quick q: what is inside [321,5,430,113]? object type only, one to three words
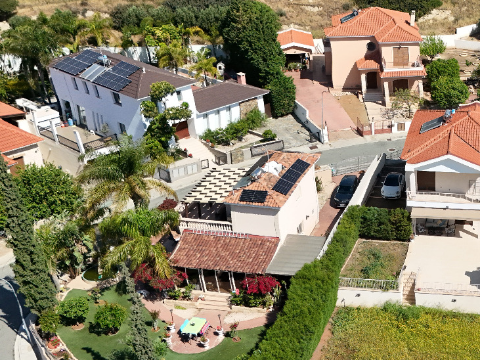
house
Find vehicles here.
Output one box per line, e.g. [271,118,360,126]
[329,169,360,204]
[365,169,402,207]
